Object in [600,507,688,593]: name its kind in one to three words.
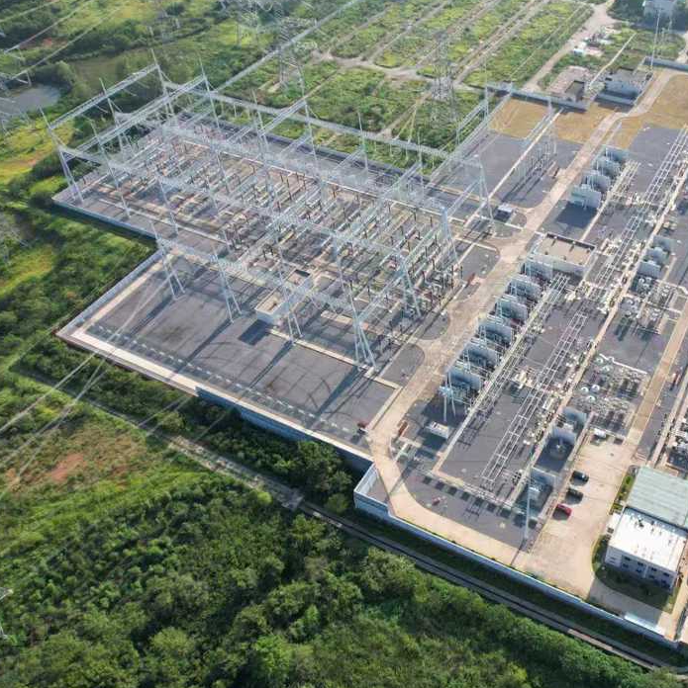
building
